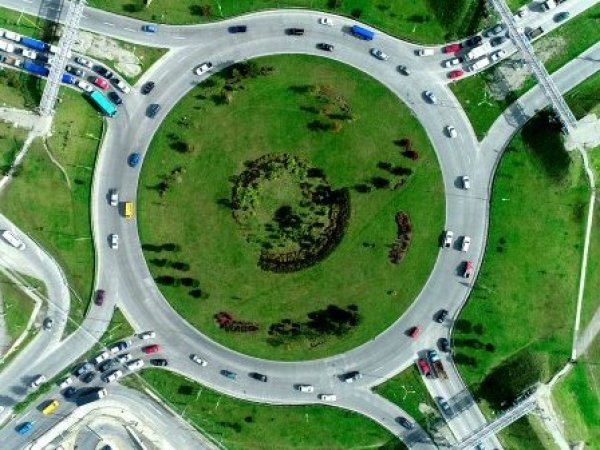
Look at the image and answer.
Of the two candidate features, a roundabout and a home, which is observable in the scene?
roundabout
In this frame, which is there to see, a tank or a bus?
bus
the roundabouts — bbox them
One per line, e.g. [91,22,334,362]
[95,11,488,402]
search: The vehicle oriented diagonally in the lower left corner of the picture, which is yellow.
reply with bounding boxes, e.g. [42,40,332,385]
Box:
[43,401,59,414]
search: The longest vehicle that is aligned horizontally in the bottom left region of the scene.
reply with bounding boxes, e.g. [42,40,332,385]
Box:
[72,388,108,405]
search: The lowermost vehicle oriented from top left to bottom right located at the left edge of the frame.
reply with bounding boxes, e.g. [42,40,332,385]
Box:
[1,231,25,251]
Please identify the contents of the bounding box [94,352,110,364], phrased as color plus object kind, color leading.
white vehicle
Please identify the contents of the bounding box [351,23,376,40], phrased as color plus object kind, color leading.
blue vehicle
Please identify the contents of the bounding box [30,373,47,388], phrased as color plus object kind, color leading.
white vehicle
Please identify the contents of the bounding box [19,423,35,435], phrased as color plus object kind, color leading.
blue vehicle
